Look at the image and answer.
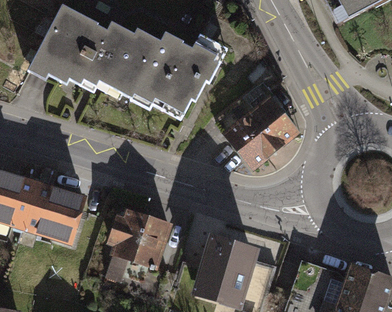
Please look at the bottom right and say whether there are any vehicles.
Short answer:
Yes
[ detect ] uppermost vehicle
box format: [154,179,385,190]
[279,90,297,111]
